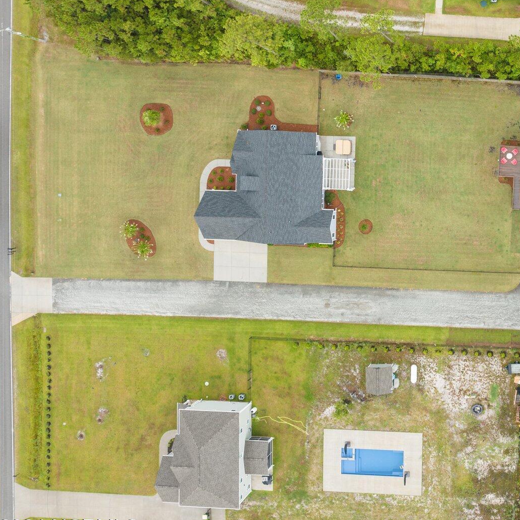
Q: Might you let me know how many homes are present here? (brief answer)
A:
2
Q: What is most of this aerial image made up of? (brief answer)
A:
grass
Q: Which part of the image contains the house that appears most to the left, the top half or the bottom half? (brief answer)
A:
bottom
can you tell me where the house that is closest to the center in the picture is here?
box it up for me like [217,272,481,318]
[194,127,337,245]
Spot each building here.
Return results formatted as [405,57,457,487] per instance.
[156,402,251,512]
[365,360,400,397]
[194,127,337,245]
